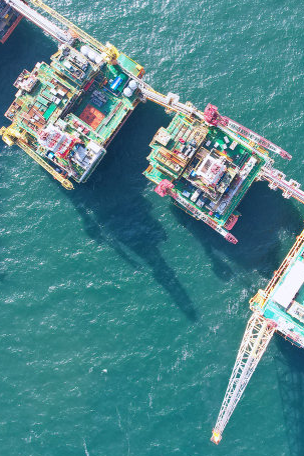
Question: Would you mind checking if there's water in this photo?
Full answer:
Yes, water can be seen from above here.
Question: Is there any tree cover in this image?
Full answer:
No, tree cover can't be seen anywhere here.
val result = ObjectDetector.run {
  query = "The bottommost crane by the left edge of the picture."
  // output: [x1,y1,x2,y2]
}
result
[0,125,72,188]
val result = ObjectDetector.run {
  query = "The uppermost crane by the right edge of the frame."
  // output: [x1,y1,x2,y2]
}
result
[199,104,292,160]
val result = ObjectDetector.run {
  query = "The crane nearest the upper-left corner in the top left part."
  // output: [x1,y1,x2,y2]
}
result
[31,0,124,65]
